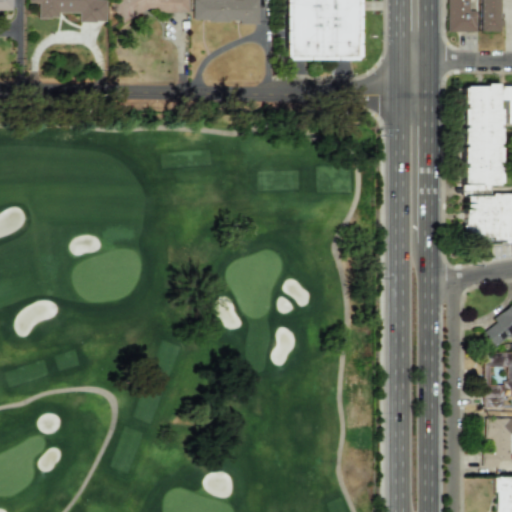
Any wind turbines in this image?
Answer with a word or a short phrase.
No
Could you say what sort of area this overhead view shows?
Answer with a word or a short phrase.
golf course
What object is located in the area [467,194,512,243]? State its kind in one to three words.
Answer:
building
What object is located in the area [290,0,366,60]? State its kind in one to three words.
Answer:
building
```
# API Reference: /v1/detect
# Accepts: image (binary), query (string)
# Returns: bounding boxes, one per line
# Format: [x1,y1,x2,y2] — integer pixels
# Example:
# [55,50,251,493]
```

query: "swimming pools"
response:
[492,366,508,386]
